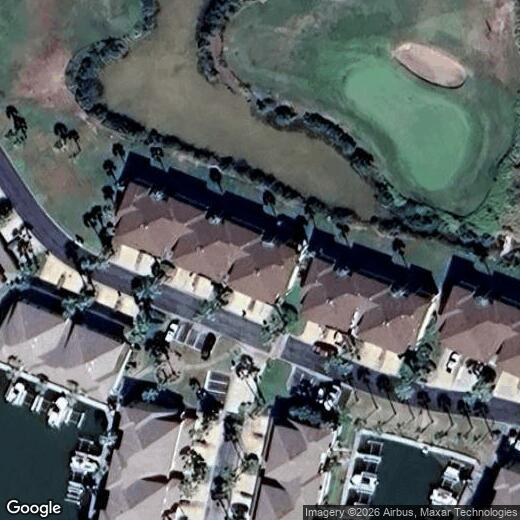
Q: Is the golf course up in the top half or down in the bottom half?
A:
top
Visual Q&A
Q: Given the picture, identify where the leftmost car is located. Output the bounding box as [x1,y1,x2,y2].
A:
[165,322,178,341]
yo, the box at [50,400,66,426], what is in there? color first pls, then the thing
white boat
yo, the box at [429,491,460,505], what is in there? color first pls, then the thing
white boat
